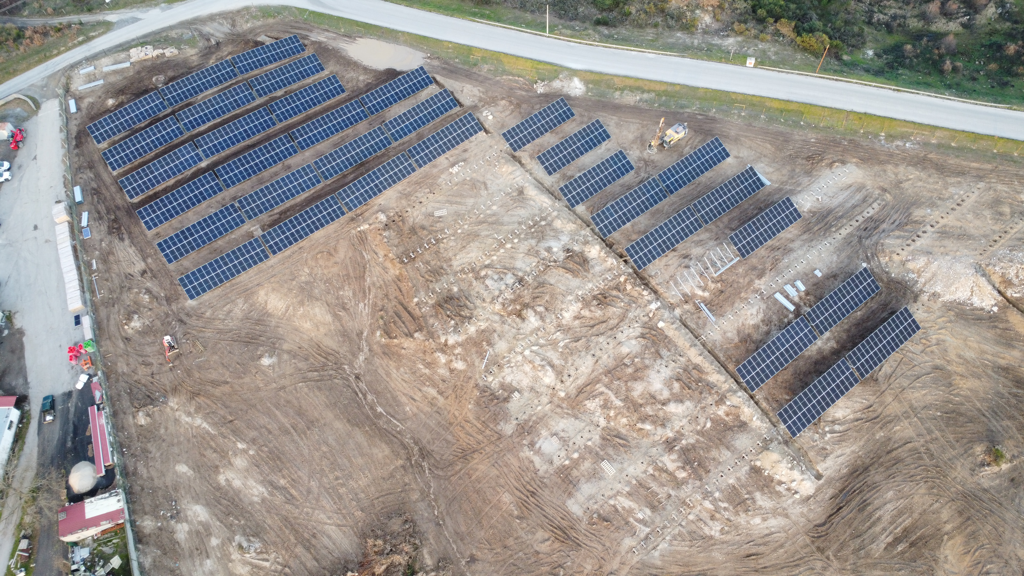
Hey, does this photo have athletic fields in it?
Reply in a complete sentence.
No, the scene contains no athletic field.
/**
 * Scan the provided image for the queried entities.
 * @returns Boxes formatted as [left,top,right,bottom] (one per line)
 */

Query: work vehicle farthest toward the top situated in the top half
[7,127,27,152]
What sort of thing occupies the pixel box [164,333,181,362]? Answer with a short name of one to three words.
work vehicle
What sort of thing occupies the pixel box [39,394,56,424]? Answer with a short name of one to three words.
vehicle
